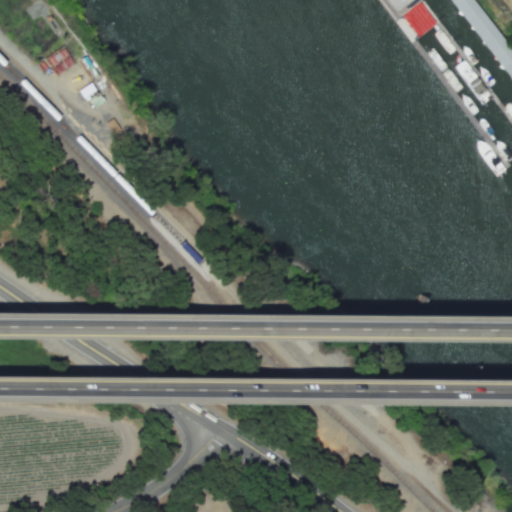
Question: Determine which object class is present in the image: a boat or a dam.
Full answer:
Looking from above, you can make out a boat.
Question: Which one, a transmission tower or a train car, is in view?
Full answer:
It is a train car that can be seen here.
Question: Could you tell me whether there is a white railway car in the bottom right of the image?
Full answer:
No, in the bottom right of the image there is no white railway car.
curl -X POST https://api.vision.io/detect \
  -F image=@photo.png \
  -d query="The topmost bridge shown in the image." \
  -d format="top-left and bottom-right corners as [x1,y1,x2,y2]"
[0,314,512,342]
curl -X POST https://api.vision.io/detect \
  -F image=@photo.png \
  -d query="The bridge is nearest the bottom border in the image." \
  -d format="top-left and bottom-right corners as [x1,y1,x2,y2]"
[0,377,512,406]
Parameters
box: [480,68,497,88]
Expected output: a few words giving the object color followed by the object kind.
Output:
white boat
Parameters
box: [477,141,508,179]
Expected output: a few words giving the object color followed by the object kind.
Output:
white boat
